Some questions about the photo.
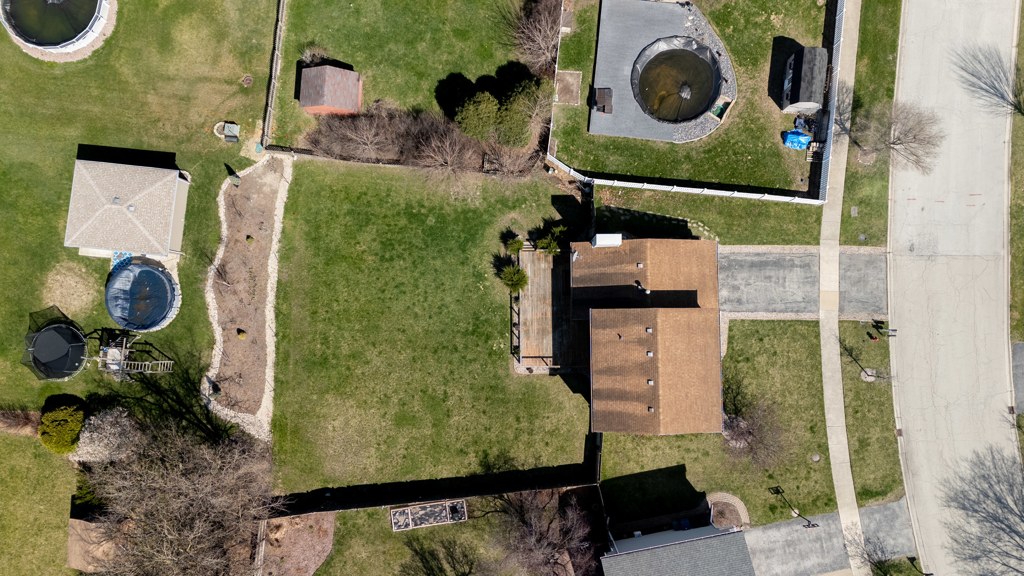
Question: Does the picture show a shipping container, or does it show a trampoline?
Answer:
trampoline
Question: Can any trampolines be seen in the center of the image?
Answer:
No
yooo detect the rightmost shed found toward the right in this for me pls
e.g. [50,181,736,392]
[782,44,832,113]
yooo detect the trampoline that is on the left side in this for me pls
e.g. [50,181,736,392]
[17,324,92,382]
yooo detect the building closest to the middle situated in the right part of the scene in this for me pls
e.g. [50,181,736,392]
[569,233,725,438]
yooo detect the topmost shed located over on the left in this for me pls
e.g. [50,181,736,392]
[299,67,363,117]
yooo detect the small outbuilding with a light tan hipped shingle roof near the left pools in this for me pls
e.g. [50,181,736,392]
[64,158,190,258]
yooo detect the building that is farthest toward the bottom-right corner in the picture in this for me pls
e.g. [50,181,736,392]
[595,506,755,576]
